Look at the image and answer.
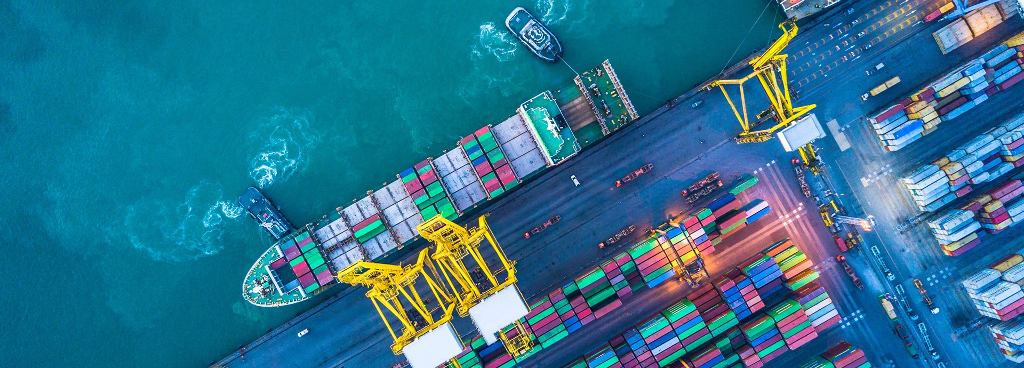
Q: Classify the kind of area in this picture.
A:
port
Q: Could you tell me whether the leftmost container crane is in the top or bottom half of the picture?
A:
bottom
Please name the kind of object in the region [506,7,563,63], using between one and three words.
boat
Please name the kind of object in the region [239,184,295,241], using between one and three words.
boat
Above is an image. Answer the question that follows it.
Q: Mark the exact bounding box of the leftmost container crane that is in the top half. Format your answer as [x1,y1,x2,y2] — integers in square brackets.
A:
[705,5,828,172]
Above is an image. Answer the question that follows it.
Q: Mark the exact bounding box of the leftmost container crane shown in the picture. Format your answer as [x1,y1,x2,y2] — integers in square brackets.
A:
[329,243,464,368]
